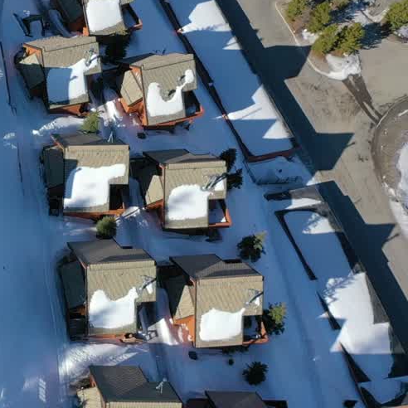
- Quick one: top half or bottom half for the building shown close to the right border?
bottom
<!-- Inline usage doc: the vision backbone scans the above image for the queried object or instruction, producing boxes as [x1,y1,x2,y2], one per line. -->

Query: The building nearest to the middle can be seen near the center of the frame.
[123,147,236,243]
